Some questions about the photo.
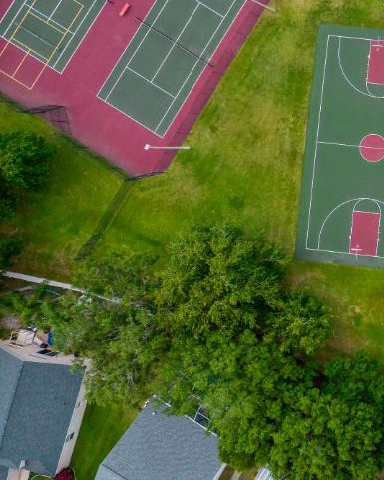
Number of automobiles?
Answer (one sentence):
Not a single automobile can be seen.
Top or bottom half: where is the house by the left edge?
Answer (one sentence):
Seen from above, the house by the left edge lies in the bottom half of the view.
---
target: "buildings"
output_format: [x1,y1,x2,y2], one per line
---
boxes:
[95,401,233,480]
[0,337,96,480]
